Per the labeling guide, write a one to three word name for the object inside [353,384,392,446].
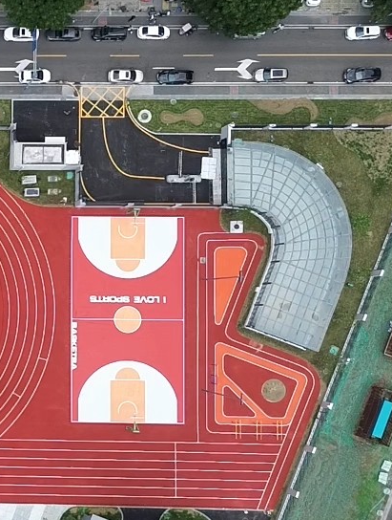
shed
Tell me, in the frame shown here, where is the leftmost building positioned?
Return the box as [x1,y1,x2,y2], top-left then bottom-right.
[8,123,83,205]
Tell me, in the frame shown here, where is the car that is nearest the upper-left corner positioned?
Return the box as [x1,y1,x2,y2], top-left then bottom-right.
[0,26,37,44]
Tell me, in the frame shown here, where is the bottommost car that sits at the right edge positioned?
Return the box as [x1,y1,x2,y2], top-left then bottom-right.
[342,67,380,85]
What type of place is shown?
sports ground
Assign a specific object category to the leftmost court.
basketball court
